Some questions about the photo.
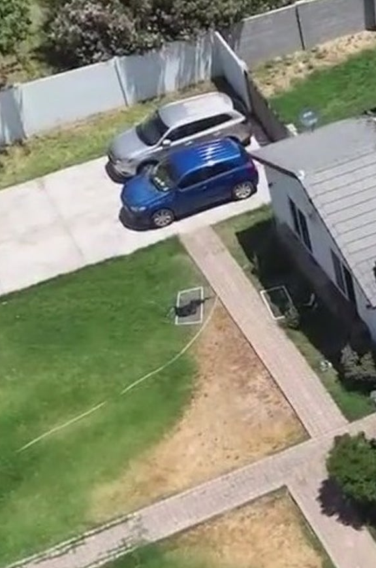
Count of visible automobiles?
two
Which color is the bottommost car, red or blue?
blue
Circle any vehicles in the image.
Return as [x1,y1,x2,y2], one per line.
[115,135,261,226]
[100,83,255,180]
